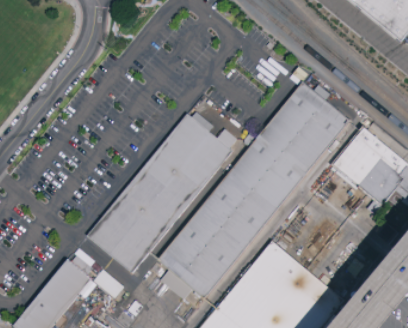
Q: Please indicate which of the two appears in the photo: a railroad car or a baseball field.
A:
railroad car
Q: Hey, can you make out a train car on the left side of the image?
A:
No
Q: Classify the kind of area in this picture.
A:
industrial area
